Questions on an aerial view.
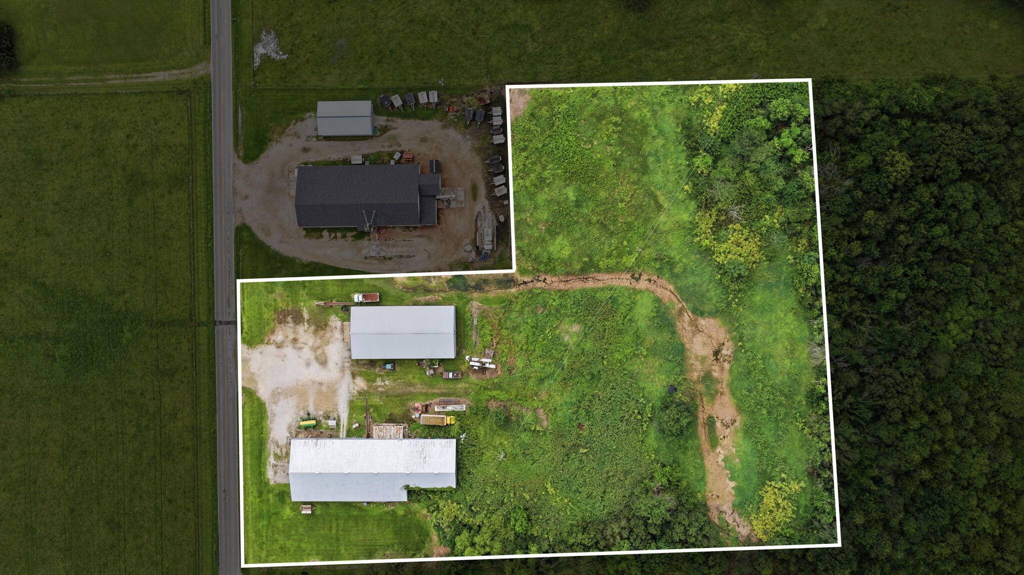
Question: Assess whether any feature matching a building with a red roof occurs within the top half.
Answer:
No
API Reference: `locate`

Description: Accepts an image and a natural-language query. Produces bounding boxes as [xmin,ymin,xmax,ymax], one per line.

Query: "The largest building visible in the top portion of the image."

[294,165,440,230]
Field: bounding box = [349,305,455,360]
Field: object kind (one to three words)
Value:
barn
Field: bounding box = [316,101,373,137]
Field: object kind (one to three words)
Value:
building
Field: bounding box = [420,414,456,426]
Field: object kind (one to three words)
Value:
vehicle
